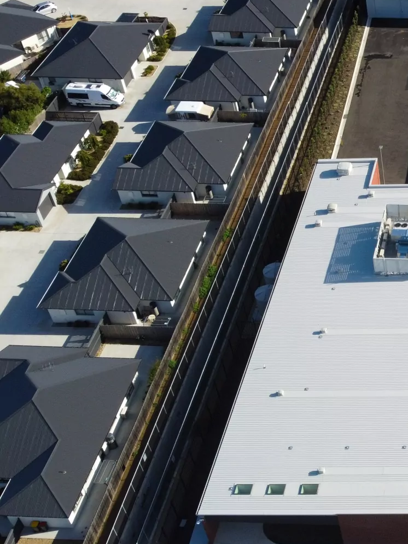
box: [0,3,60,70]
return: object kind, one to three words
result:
house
